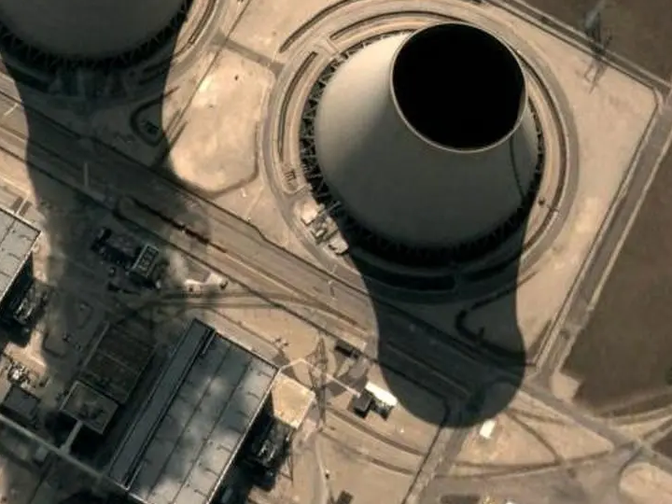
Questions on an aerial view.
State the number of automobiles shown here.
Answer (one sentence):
The picture shows no automobiles.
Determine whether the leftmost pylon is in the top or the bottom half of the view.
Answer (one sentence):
Seen from above, the leftmost pylon lies in the bottom half of the view.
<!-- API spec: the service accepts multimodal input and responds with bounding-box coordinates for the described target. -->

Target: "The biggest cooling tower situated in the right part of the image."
[299,21,544,268]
